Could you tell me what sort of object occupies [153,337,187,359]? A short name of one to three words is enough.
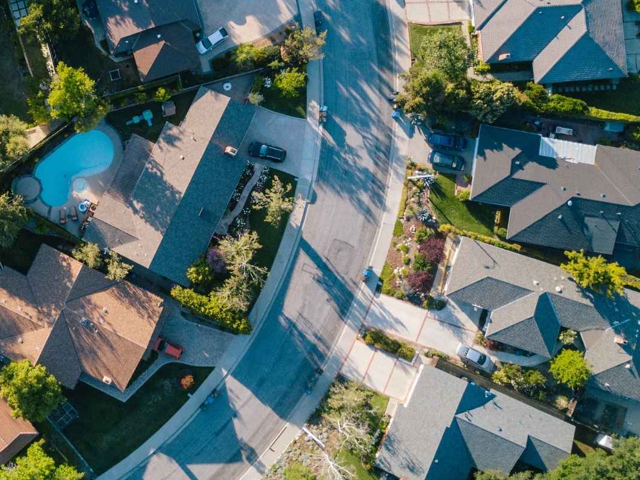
car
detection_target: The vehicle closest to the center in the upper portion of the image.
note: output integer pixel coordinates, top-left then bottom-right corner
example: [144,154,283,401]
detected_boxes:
[248,141,286,162]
